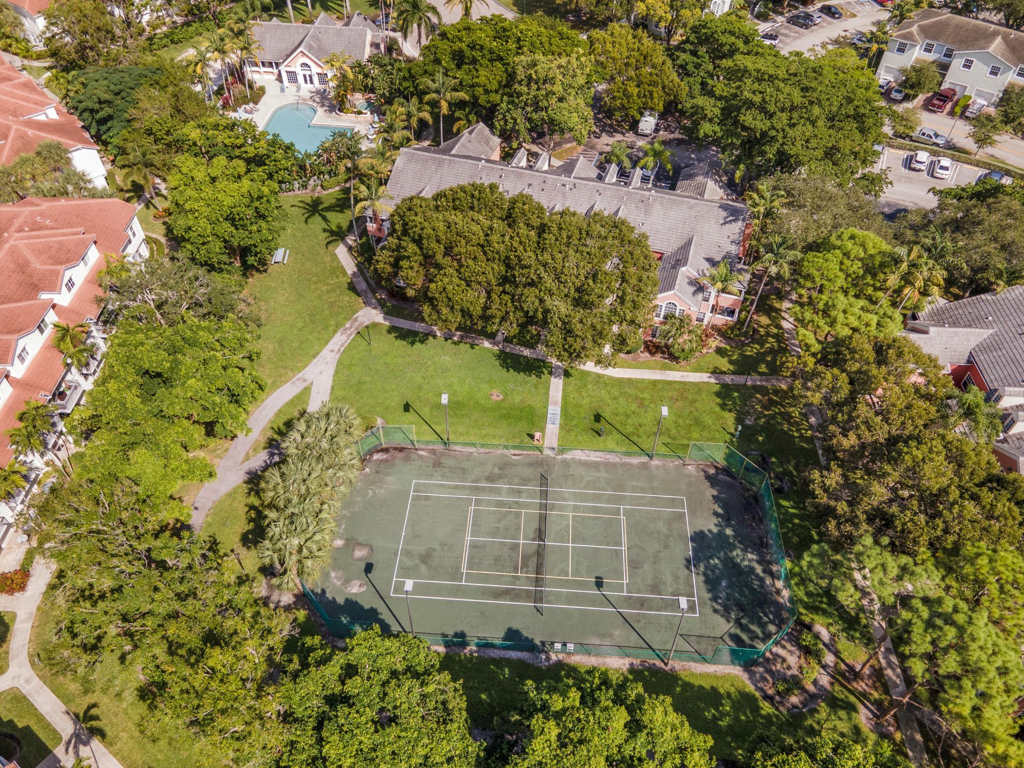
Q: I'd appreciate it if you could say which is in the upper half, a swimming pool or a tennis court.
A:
swimming pool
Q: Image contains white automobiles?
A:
Yes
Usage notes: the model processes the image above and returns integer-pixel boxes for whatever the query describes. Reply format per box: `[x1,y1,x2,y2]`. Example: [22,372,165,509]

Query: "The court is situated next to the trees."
[306,445,786,668]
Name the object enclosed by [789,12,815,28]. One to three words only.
car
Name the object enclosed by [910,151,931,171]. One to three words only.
car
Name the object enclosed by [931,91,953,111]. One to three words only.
vehicle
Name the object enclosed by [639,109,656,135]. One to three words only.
vehicle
